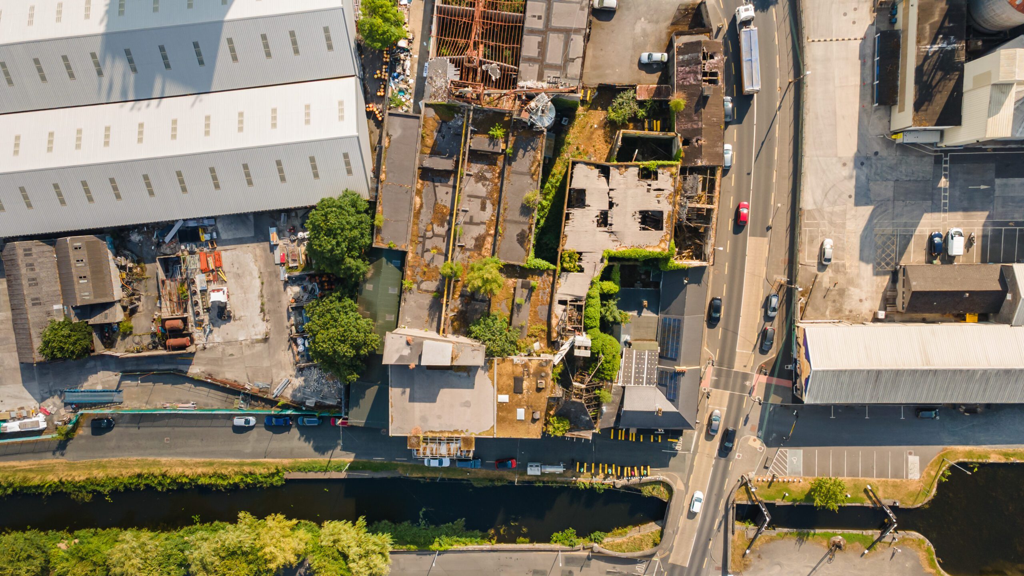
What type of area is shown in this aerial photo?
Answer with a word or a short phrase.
industrial area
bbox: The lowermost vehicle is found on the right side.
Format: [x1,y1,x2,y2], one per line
[689,490,704,515]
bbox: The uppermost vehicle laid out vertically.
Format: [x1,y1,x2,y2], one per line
[734,0,761,95]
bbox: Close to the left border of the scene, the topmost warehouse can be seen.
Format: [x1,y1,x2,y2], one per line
[0,0,372,240]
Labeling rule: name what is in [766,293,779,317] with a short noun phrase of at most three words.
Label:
vehicle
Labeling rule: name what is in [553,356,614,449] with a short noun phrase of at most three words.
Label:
house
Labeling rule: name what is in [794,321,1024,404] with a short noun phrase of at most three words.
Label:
shed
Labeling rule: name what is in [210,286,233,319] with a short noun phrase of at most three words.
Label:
truck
